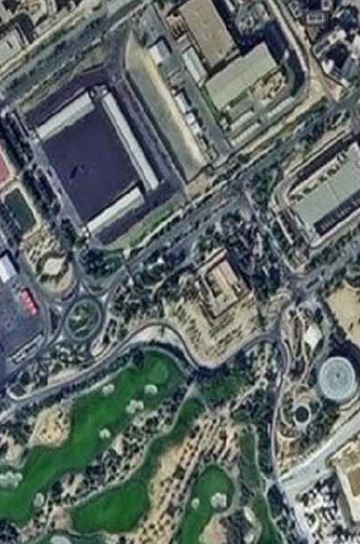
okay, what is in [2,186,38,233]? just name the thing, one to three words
sports court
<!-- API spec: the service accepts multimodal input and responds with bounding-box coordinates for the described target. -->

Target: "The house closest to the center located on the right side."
[198,250,249,315]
